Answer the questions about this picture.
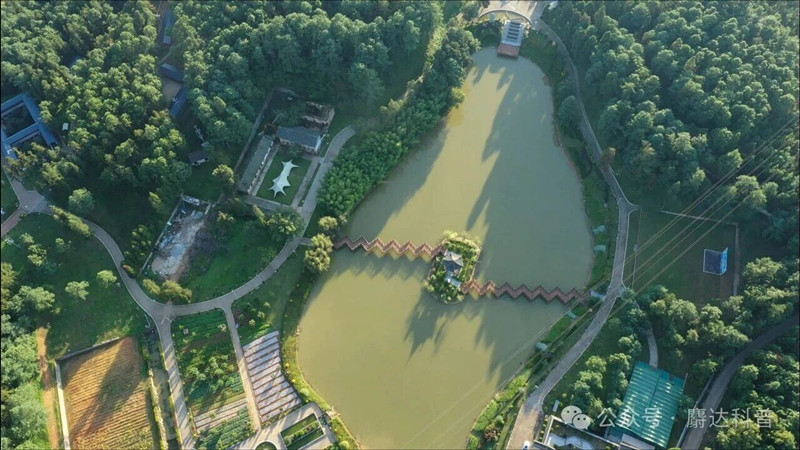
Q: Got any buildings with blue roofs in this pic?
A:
Yes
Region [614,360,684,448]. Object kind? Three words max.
shed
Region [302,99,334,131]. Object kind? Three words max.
house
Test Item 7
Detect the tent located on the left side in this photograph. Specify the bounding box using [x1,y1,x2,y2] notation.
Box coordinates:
[266,160,300,203]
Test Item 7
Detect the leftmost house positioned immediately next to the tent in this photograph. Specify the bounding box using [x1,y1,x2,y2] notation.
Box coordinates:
[239,135,274,194]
